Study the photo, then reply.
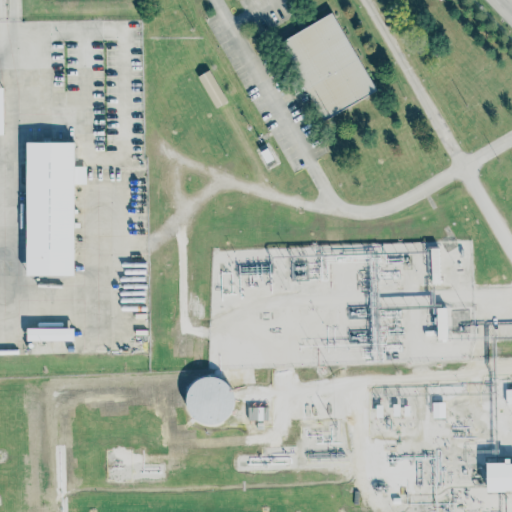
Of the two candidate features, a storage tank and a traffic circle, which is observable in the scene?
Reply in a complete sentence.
Visible in the photo is a storage tank.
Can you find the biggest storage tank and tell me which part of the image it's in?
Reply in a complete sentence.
Look in the bottom portion of the view to spot the biggest storage tank.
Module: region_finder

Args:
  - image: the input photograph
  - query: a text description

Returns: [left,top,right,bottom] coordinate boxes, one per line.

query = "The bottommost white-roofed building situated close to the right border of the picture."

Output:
[478,447,512,494]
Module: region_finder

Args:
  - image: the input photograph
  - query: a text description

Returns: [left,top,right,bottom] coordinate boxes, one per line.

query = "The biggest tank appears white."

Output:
[186,376,245,428]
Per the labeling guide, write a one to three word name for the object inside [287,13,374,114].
building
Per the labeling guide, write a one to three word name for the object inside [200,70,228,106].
shed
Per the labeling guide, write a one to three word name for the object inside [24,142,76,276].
building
